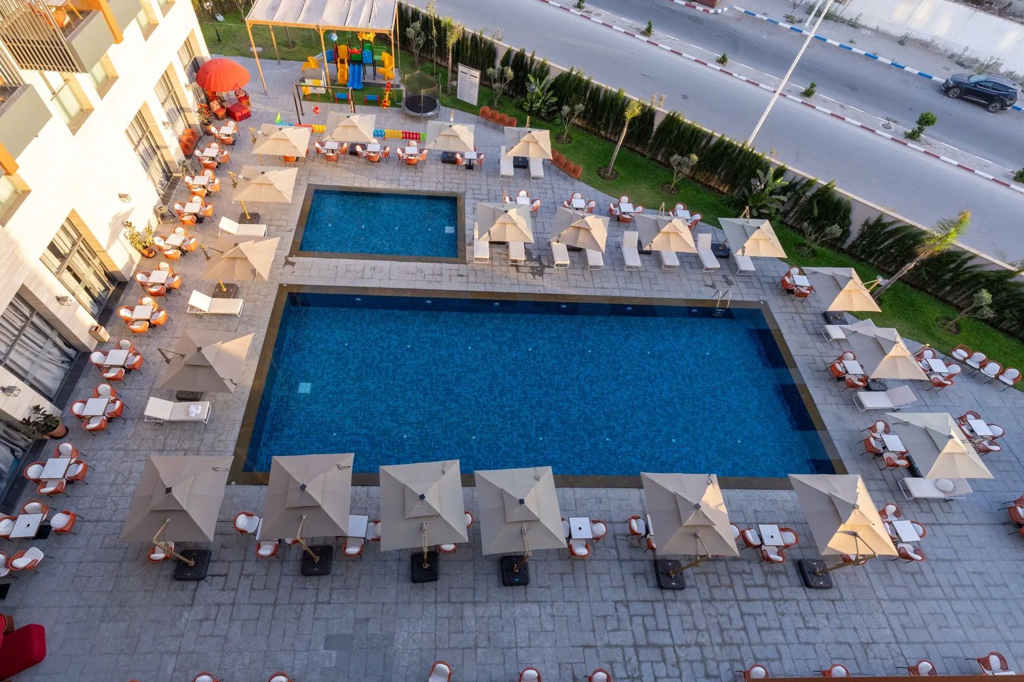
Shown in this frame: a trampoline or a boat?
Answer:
trampoline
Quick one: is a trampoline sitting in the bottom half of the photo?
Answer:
No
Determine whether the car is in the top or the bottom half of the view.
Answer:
top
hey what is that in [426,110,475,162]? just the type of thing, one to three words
umbrella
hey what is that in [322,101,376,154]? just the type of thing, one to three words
umbrella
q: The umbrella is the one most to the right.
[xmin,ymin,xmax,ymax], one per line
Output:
[888,413,993,480]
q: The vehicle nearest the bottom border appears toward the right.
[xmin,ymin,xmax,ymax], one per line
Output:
[944,72,1024,111]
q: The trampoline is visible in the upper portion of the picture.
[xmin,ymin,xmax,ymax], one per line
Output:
[400,73,441,125]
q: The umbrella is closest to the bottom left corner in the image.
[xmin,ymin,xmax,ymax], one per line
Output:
[118,457,233,580]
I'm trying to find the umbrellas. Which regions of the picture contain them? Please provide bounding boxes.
[194,62,256,108]
[888,413,993,480]
[549,199,610,255]
[118,457,233,580]
[800,267,882,325]
[641,472,740,589]
[712,205,788,259]
[426,110,475,162]
[258,455,354,577]
[475,467,569,586]
[476,191,535,245]
[250,123,312,167]
[199,235,279,300]
[633,202,698,253]
[229,166,296,223]
[790,476,898,588]
[156,329,253,402]
[322,101,376,154]
[504,116,553,168]
[839,327,929,389]
[381,462,470,582]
